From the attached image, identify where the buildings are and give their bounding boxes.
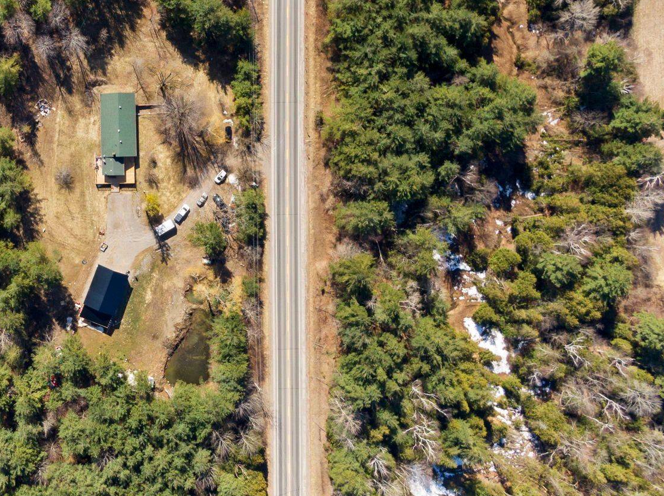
[98,92,165,190]
[77,265,128,332]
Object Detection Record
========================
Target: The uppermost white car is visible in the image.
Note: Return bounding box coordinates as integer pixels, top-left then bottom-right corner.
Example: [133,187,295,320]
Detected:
[214,169,227,183]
